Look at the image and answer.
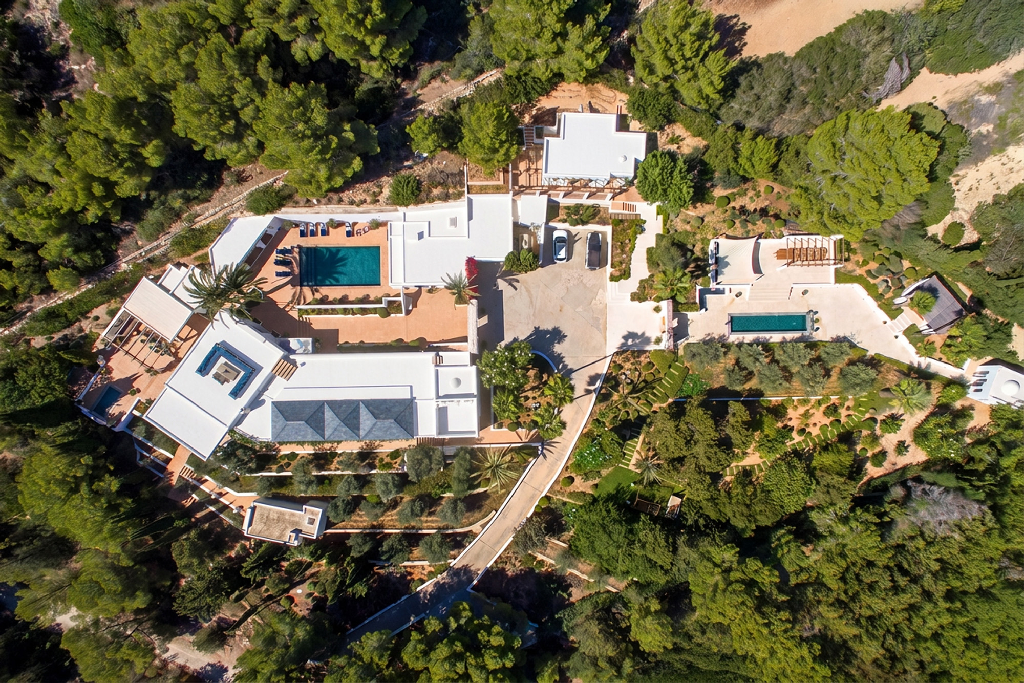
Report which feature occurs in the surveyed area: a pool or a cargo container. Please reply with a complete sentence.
Visible in the photo is a pool.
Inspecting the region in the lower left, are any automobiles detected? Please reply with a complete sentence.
No, looking in the lower left, there is no automobile.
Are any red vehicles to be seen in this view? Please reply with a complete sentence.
No, no red vehicle is visible in the view.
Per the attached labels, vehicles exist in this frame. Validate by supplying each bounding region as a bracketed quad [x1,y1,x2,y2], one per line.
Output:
[585,231,603,271]
[553,230,569,263]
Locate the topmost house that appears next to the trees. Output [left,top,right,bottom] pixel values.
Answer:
[542,113,646,186]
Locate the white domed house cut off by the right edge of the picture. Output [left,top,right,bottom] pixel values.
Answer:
[958,361,1024,420]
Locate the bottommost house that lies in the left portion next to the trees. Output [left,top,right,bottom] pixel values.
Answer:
[243,496,329,545]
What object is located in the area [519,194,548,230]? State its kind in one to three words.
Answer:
shed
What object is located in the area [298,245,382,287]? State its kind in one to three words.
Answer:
swimming pool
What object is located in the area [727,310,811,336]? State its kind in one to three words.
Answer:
swimming pool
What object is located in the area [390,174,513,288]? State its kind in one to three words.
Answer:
building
